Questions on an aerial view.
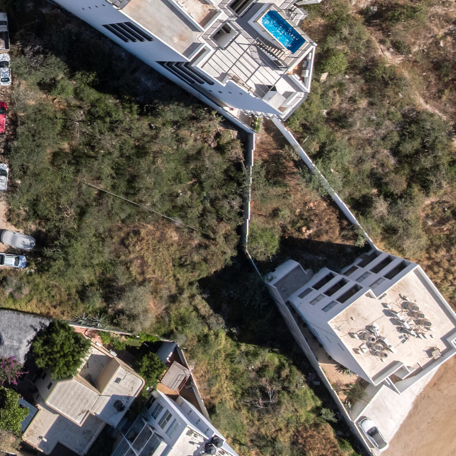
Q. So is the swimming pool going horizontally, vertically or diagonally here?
diagonally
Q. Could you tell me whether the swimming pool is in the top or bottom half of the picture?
top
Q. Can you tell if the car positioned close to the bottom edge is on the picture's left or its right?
right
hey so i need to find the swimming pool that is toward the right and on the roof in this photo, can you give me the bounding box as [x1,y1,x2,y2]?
[261,11,308,55]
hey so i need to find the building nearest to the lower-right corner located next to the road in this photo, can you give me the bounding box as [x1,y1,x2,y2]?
[255,245,456,394]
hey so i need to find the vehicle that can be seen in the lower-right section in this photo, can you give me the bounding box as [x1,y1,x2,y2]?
[358,416,392,455]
